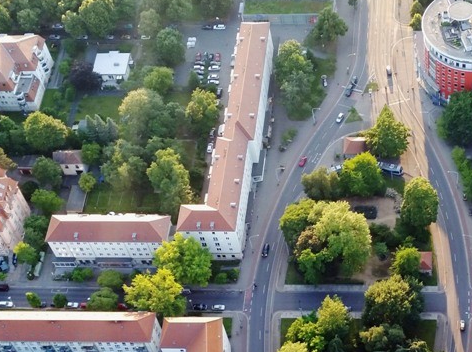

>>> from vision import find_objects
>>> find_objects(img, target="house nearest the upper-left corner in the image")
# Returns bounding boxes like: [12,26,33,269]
[0,33,58,113]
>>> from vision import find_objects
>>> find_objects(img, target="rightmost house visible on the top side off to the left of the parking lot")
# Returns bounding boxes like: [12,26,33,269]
[95,53,131,83]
